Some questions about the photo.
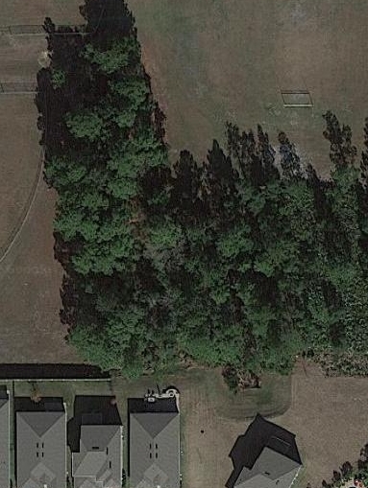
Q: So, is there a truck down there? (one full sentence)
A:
No, there is no truck in the image.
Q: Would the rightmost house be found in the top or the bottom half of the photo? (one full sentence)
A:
The rightmost house is in the bottom half of the image.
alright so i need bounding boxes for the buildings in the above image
[237,439,303,488]
[17,413,66,488]
[129,414,180,488]
[72,426,123,488]
[0,399,10,488]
